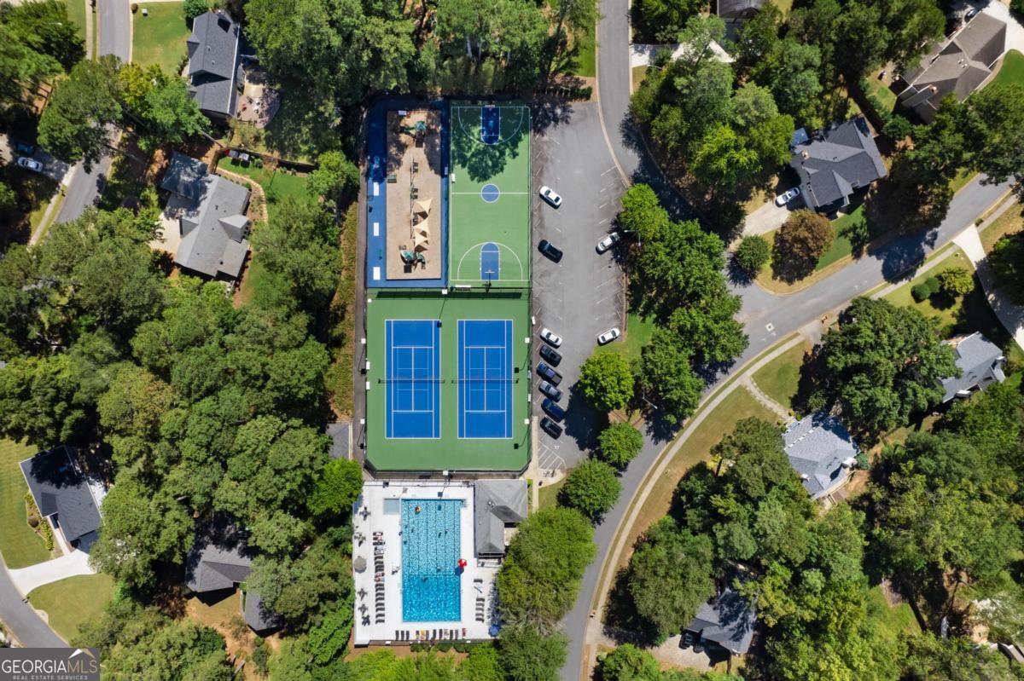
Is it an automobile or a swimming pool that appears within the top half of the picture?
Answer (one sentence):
What appears within the top half of the picture is an automobile.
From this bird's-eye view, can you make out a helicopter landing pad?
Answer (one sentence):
No, no helicopter landing pad is visible in the view.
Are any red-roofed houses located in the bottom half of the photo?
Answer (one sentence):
No, no red-roofed house can be made out in the bottom half of the photo.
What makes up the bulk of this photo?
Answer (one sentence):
What you mostly see from above here is trees.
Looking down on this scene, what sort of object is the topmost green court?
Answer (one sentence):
What you see as the topmost green court is a basketball court.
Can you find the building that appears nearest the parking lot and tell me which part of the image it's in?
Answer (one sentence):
Look in the bottom portion of the view to spot the building that appears nearest the parking lot.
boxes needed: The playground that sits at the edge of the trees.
[367,98,448,287]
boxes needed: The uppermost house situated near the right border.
[889,11,1007,117]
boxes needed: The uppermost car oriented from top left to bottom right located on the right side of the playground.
[539,187,563,206]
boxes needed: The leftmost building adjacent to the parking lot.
[474,478,528,564]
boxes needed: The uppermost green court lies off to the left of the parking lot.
[449,100,530,287]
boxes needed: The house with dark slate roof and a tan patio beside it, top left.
[185,8,249,120]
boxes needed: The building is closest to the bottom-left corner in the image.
[19,445,100,542]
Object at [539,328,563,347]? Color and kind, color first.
white car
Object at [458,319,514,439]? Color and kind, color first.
blue tennis court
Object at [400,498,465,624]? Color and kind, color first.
blue swimming pool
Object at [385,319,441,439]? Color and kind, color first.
blue tennis court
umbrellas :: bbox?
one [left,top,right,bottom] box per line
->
[458,557,467,568]
[354,558,367,571]
[489,625,501,637]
